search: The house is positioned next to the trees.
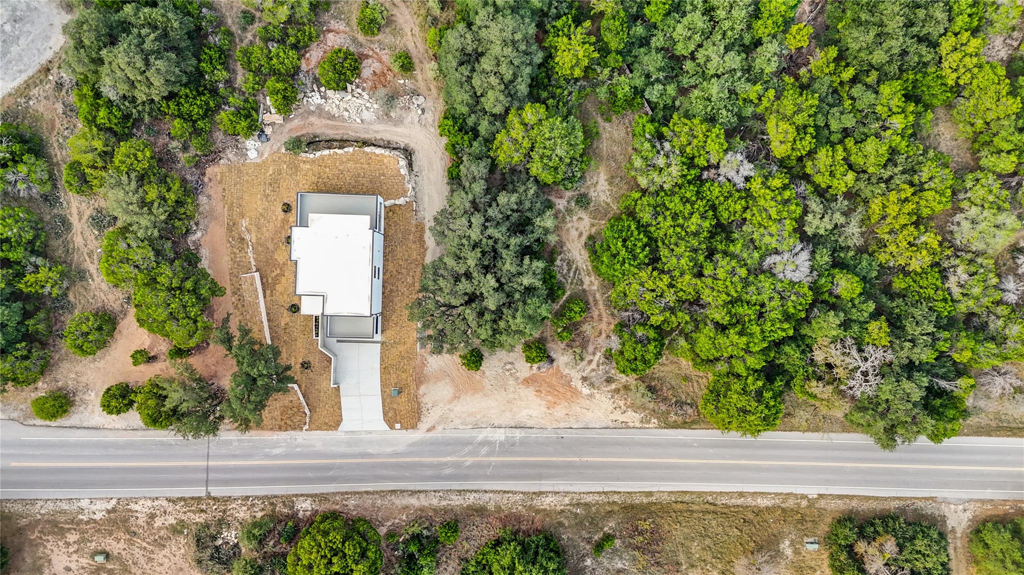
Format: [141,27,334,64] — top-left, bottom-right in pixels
[288,192,384,339]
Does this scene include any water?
No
